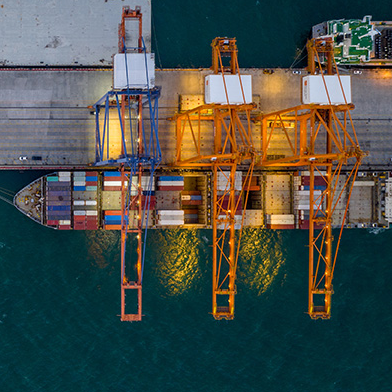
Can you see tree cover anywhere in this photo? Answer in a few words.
No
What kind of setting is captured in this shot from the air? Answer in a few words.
port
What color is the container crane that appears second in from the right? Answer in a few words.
orange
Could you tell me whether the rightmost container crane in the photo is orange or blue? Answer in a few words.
orange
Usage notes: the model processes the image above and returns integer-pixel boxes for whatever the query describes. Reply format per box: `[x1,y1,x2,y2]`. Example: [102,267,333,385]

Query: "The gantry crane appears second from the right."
[169,30,266,323]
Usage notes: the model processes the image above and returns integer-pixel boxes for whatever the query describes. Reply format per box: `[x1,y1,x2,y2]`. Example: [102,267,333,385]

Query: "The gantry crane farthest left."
[87,10,160,322]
